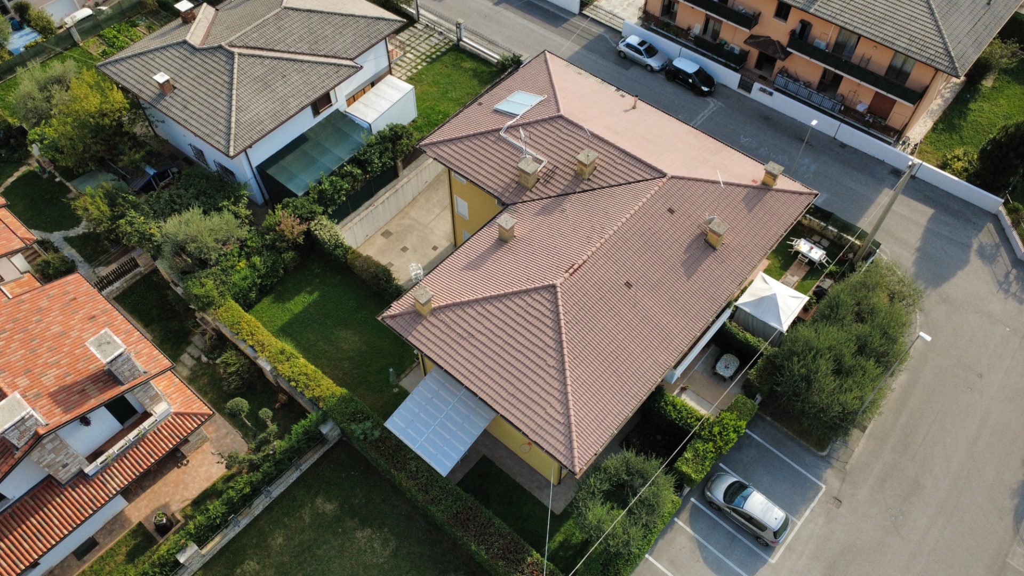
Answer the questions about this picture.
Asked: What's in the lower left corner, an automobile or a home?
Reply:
home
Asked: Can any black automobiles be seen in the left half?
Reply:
No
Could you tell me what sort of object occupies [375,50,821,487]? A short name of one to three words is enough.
house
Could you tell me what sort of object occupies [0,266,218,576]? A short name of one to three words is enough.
house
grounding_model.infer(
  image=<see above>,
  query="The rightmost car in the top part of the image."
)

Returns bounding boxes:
[665,57,718,96]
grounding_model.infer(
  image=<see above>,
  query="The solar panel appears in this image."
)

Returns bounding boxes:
[495,89,548,171]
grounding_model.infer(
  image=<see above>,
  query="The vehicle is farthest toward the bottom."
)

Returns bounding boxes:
[702,471,796,550]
